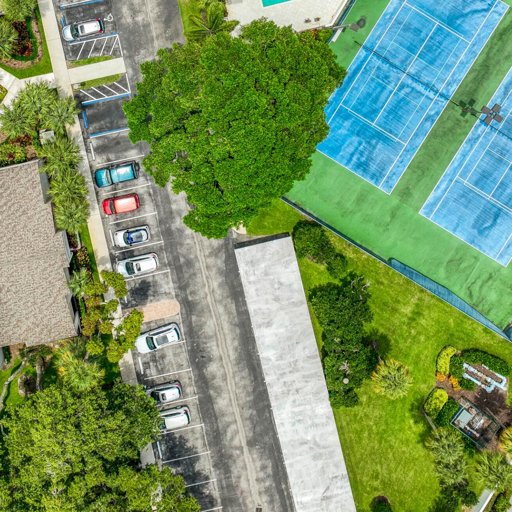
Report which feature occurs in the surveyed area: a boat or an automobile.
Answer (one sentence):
This aerial view contains an automobile.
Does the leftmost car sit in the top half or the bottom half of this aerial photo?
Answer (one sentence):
It is in the top half that the leftmost car appears.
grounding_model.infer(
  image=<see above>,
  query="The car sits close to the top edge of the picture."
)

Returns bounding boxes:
[63,18,107,42]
